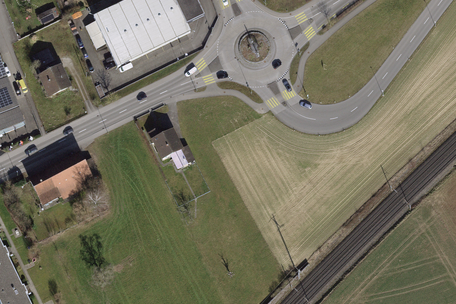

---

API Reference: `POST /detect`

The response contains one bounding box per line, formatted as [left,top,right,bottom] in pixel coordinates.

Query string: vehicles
[137,92,148,100]
[102,62,114,70]
[102,56,112,64]
[218,72,228,78]
[86,58,94,72]
[284,79,292,92]
[300,100,313,108]
[272,58,282,70]
[10,168,22,177]
[4,65,12,76]
[26,145,38,154]
[76,35,84,48]
[121,63,134,72]
[64,127,74,135]
[82,46,89,58]
[20,80,27,92]
[185,66,198,76]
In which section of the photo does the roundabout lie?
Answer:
top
